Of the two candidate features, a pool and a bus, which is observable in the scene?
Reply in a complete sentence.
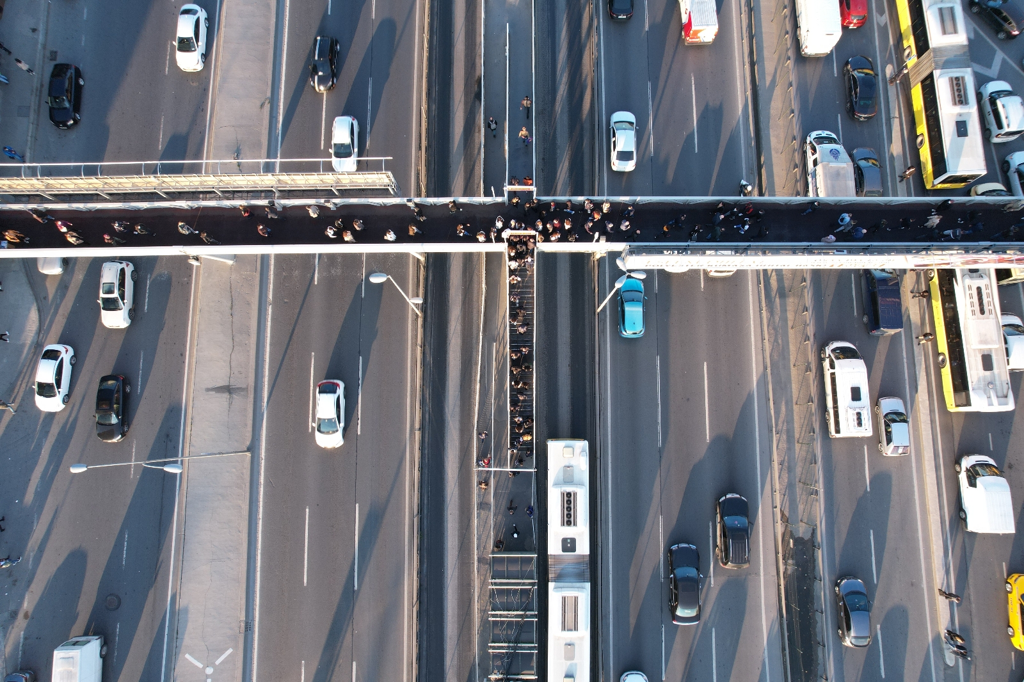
Of the two, only a bus appears.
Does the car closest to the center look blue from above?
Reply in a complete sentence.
Yes, blue is the color of the car closest to the center.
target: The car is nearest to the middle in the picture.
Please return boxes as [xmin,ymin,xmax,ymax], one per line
[616,281,649,337]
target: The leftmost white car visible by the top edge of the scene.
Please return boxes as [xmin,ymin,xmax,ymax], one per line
[173,3,210,71]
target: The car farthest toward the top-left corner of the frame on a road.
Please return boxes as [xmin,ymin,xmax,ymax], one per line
[44,62,87,129]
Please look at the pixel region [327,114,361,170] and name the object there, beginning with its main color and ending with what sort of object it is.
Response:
white car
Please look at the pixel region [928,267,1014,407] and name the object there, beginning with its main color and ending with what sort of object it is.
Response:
white bus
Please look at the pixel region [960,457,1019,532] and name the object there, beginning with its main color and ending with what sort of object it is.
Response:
white van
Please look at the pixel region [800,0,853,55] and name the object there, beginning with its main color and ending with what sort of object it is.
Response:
white truck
